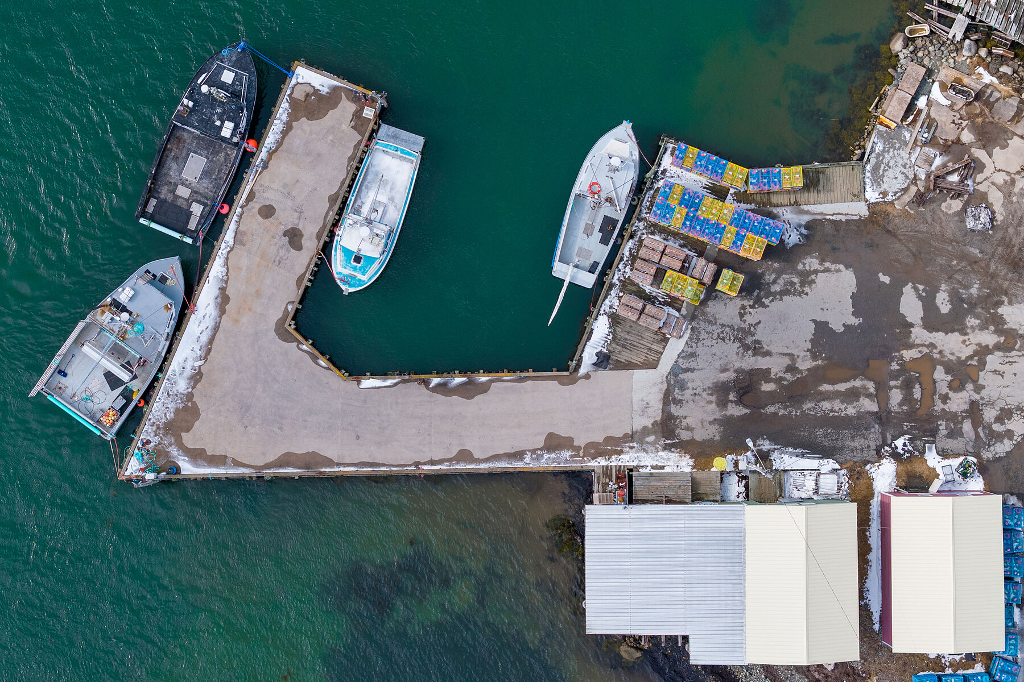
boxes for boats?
[547,119,640,326]
[136,39,258,246]
[331,123,426,295]
[28,255,185,440]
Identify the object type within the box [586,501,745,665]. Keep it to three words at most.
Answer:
shed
